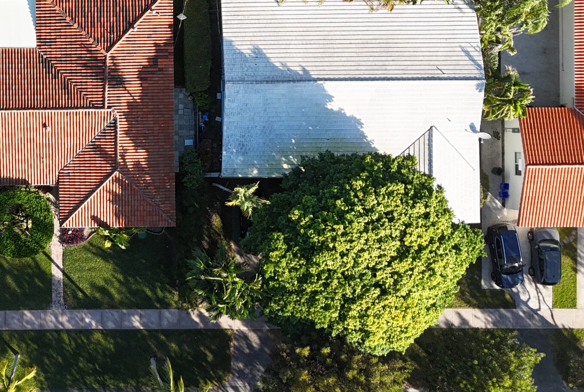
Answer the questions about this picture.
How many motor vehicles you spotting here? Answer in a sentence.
My tally gives 2 motor vehicles in this view.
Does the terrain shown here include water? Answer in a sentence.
No, there's no water in this view.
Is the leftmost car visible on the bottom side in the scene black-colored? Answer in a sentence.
Yes, the leftmost car visible on the bottom side is indeed black.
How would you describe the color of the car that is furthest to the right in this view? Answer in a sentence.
From above, the car that is furthest to the right appears black.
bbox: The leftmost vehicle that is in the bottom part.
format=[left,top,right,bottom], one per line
[492,223,530,286]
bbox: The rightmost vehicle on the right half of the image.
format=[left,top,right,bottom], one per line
[531,228,566,284]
